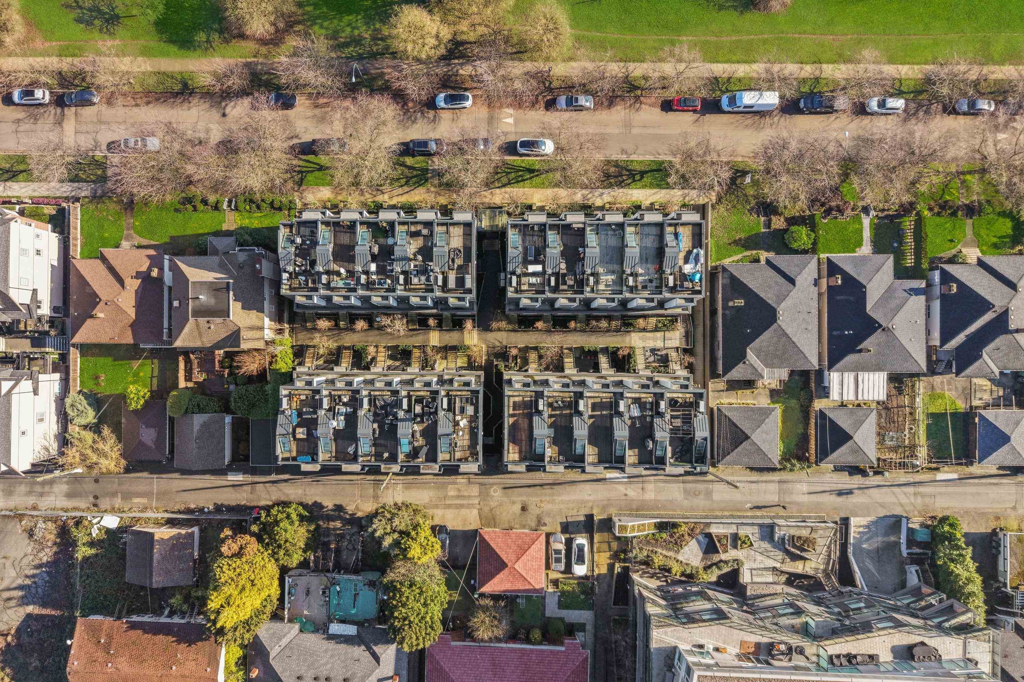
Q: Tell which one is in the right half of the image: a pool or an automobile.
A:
automobile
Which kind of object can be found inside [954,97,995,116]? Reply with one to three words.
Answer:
car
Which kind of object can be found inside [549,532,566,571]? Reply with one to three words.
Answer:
car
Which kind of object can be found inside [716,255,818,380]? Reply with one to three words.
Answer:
house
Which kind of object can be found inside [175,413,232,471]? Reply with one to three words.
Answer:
building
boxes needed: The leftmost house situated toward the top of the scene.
[0,202,70,330]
